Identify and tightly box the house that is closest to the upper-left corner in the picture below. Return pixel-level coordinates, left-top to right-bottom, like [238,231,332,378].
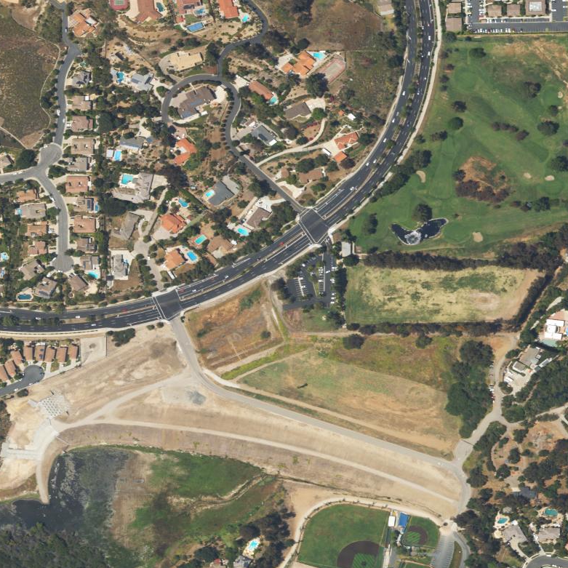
[68,8,94,37]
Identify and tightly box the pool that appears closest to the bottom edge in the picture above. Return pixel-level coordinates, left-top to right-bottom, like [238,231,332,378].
[245,537,260,552]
